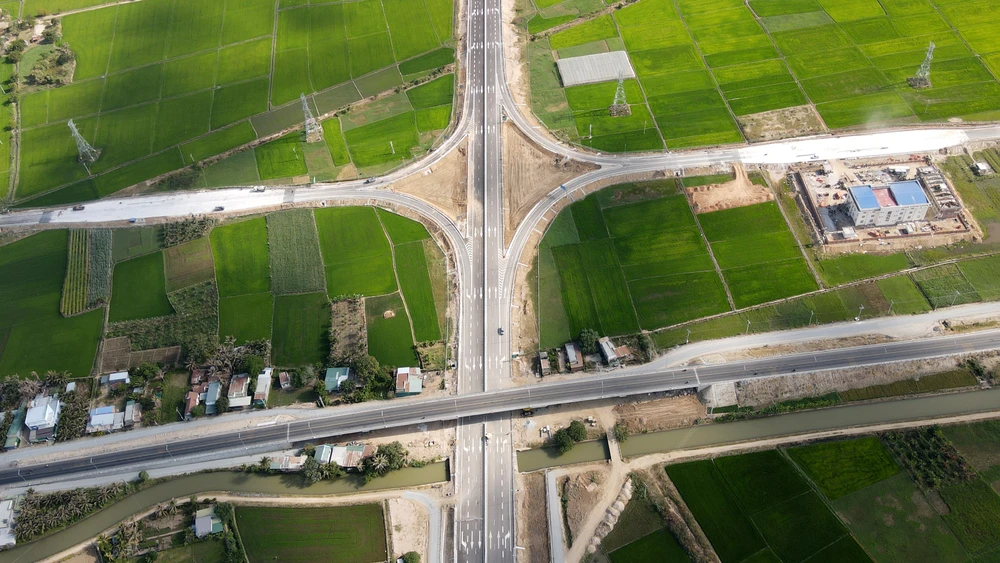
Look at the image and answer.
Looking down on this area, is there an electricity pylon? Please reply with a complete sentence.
Yes, the photo shows an electricity pylon.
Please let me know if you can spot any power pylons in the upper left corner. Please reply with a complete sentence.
Yes, looking in the upper left corner, one can make out a power pylon.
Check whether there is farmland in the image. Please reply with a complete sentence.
Yes, the picture does contain farmland.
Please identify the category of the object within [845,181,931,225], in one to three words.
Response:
building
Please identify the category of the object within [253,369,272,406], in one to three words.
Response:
house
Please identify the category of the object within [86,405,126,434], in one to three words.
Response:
house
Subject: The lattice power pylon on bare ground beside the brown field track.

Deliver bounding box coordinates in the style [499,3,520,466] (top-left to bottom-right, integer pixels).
[303,93,321,139]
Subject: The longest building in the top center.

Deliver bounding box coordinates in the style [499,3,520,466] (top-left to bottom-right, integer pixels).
[558,51,635,90]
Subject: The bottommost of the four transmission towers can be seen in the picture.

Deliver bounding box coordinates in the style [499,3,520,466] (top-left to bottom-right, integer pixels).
[68,120,96,164]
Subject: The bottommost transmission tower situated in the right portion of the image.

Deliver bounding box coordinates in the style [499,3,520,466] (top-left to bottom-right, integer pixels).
[612,70,628,116]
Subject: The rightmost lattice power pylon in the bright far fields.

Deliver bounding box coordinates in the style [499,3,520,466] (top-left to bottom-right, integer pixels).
[910,43,933,88]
